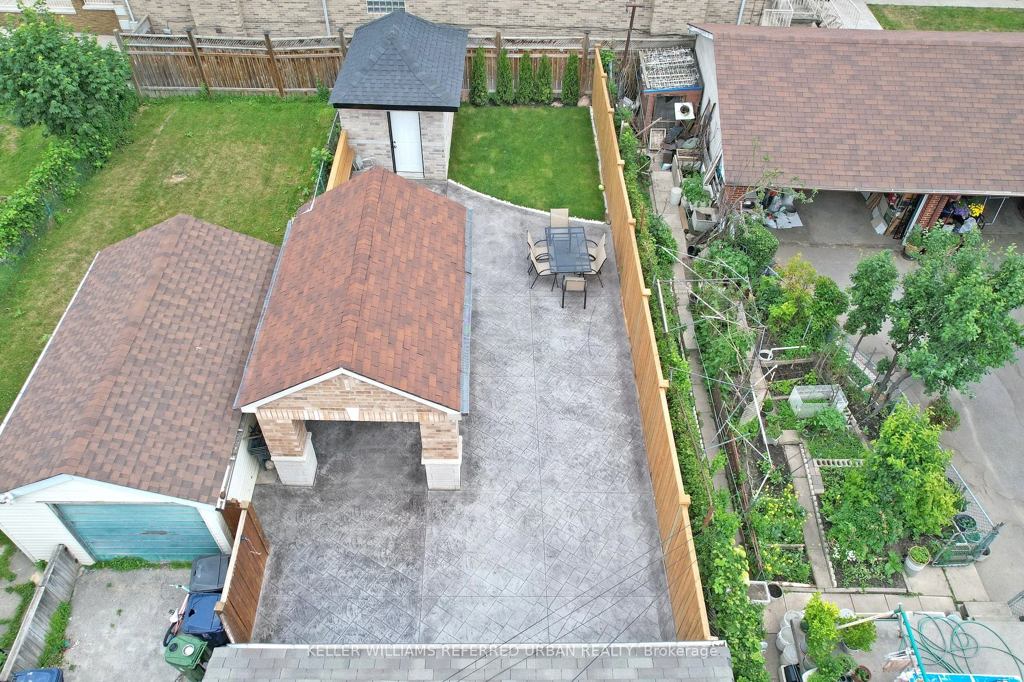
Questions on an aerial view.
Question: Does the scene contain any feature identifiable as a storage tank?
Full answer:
No, there is no storage tank in the image.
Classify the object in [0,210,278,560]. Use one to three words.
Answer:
building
